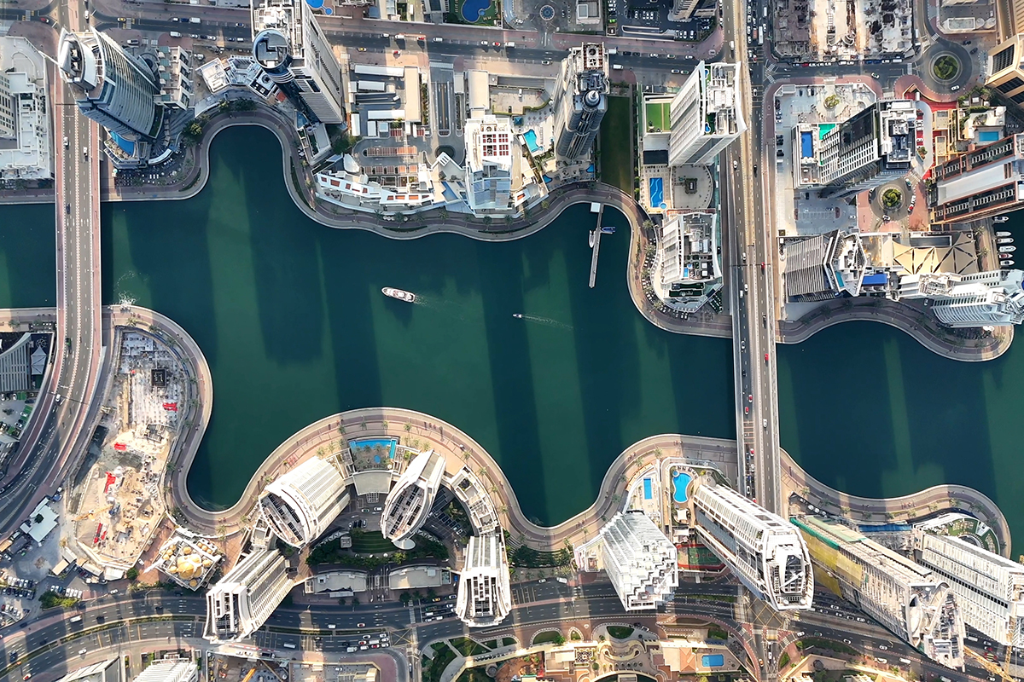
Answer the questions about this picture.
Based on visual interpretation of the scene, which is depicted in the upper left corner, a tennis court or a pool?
pool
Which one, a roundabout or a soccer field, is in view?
roundabout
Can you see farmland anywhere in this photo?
No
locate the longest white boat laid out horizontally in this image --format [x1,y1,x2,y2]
[382,288,417,303]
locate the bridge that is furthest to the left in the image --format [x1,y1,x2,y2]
[0,59,104,542]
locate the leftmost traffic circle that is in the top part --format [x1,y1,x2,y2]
[871,177,913,219]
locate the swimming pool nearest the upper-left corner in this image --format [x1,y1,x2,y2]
[108,127,137,155]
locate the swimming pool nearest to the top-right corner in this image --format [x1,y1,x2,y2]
[799,128,816,160]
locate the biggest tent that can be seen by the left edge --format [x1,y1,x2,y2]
[32,346,50,374]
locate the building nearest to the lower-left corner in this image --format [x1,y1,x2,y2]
[55,649,122,682]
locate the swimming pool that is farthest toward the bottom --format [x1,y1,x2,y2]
[702,654,724,668]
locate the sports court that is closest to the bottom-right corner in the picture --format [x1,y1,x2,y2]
[678,544,725,570]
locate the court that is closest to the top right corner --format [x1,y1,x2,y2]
[642,100,673,137]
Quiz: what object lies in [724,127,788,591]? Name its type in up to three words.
bridge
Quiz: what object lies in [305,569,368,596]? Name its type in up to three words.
building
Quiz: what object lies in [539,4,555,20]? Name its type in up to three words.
fountain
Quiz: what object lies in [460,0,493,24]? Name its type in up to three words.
swimming pool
